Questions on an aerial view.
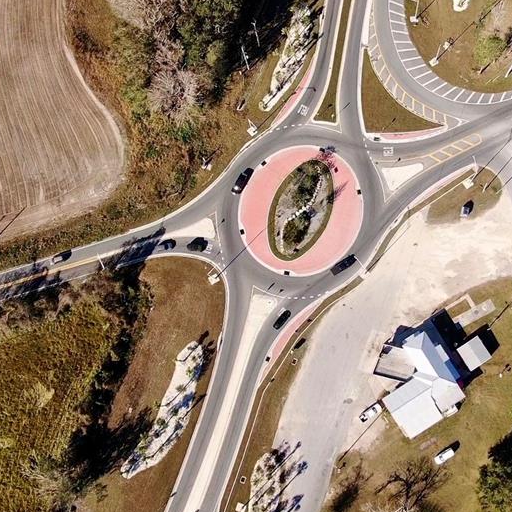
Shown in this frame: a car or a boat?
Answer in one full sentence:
Of the two, only a car appears.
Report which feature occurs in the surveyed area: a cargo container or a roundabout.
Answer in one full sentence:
Looking from above, you can make out a roundabout.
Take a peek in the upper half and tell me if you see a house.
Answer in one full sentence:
No, in the upper half there is no house.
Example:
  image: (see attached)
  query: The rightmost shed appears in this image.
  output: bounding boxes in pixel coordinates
[456,336,491,370]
